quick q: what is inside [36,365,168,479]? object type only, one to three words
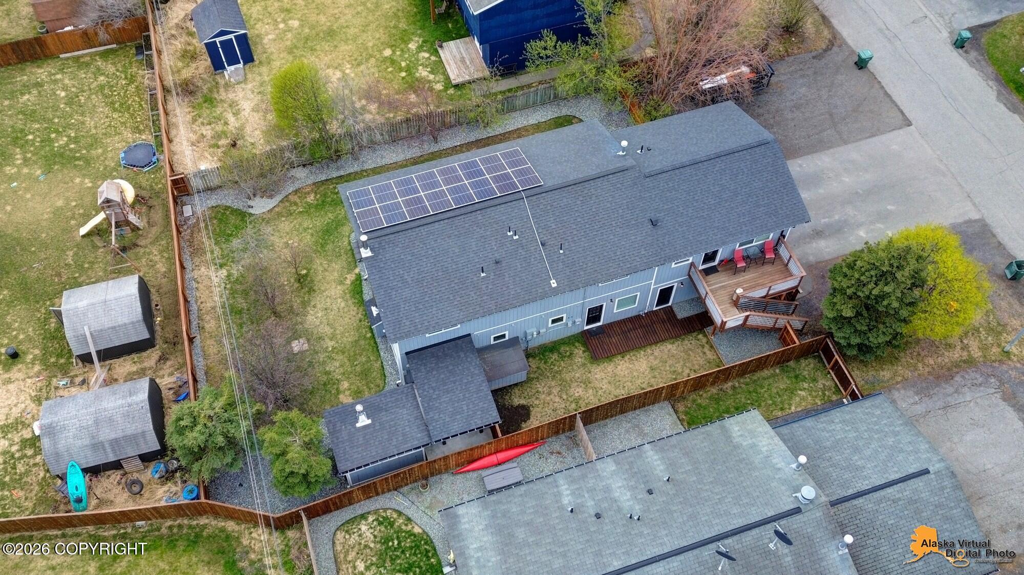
shed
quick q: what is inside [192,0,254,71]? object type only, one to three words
shed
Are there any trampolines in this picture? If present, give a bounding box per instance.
[119,139,160,176]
